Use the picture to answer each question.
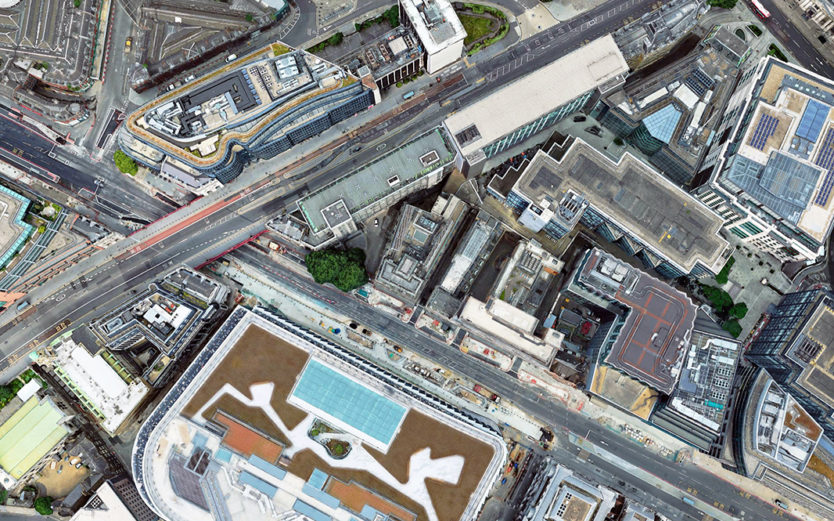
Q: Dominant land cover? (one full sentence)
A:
The bulk of the photo consists of buildings.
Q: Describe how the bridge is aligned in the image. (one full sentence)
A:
I'd say the bridge is aligned horizontally in the picture.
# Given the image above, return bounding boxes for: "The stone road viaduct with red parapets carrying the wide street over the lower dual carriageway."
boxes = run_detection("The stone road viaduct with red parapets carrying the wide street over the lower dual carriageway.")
[118,194,271,270]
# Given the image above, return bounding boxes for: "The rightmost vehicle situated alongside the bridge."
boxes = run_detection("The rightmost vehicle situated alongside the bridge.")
[264,240,284,253]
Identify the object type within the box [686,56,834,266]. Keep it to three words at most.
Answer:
building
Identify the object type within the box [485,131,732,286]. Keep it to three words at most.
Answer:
building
